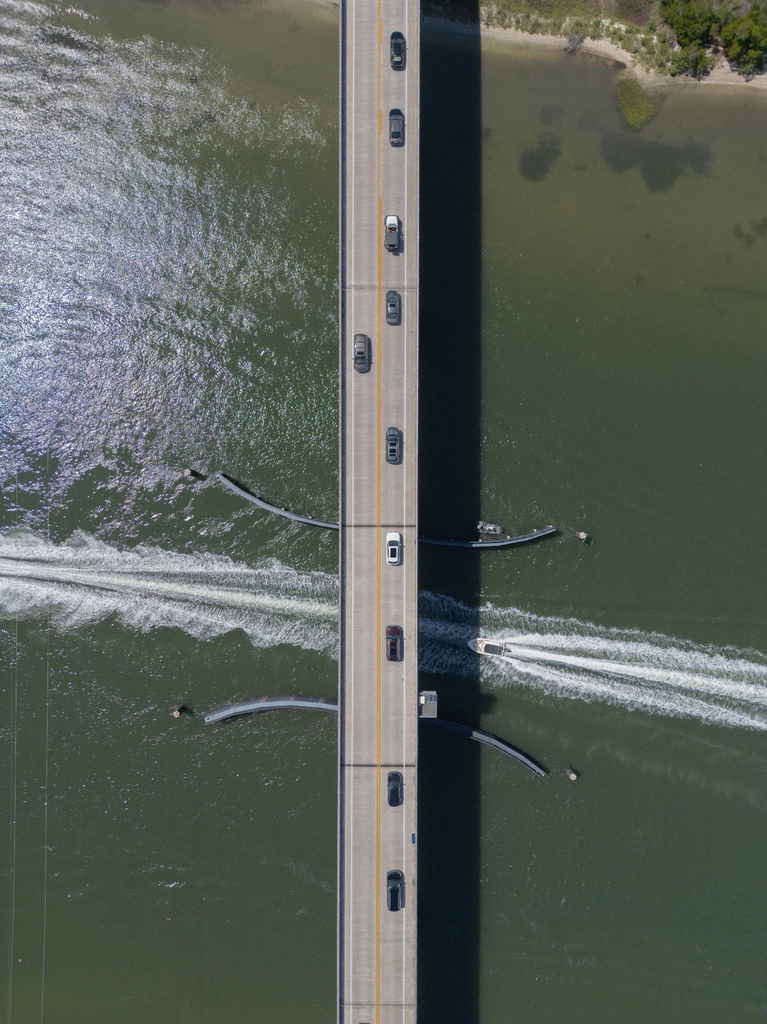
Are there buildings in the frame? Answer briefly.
No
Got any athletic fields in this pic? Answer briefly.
No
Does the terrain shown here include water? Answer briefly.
Yes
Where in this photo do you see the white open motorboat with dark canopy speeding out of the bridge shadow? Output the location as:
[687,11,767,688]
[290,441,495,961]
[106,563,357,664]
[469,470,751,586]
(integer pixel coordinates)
[467,639,508,656]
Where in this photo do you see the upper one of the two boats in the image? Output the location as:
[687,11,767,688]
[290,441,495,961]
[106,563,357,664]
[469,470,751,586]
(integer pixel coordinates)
[476,521,504,534]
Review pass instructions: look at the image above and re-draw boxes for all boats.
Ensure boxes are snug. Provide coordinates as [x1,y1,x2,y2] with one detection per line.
[467,639,508,656]
[476,521,504,534]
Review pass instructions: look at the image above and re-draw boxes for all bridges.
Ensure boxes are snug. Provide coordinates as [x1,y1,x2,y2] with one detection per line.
[337,0,420,1024]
